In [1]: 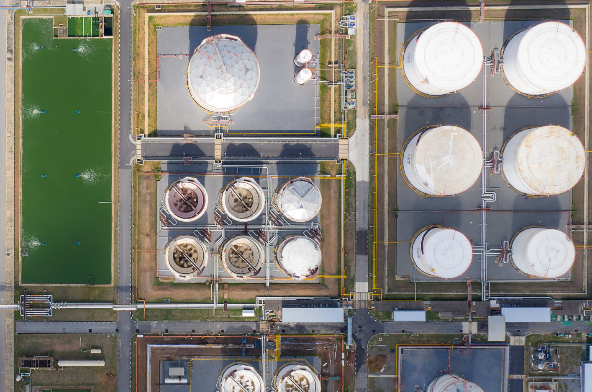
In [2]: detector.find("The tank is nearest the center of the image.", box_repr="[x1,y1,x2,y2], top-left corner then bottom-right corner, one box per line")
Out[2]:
[269,174,322,225]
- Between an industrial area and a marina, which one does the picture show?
industrial area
